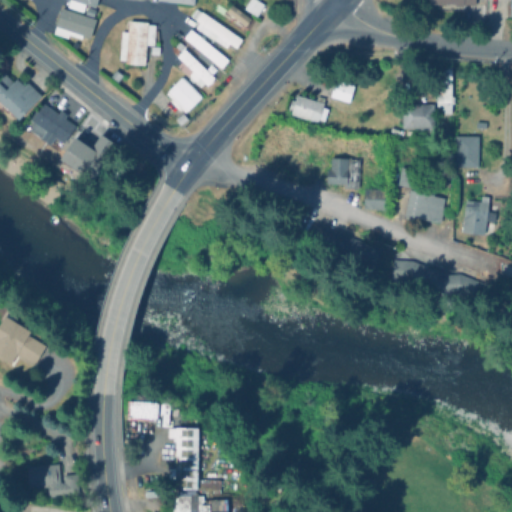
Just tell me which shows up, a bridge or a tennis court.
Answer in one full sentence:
The image shows a bridge.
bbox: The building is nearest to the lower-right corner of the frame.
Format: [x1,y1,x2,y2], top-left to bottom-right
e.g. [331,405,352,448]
[446,273,482,296]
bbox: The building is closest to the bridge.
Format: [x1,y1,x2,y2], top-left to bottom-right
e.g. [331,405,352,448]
[130,402,158,420]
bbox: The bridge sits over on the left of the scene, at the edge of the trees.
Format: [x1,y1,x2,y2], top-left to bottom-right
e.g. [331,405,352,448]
[92,184,190,394]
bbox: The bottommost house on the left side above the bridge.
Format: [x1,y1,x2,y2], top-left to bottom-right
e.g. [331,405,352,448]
[61,136,113,170]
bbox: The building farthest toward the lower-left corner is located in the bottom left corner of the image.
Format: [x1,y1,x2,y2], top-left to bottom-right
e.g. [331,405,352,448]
[45,464,80,498]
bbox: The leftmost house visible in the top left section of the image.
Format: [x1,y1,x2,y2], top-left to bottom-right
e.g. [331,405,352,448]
[0,74,44,120]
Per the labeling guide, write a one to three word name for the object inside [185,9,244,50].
house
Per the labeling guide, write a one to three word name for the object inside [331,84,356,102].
building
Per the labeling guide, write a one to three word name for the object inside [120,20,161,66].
house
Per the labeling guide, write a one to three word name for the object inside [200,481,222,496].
shed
